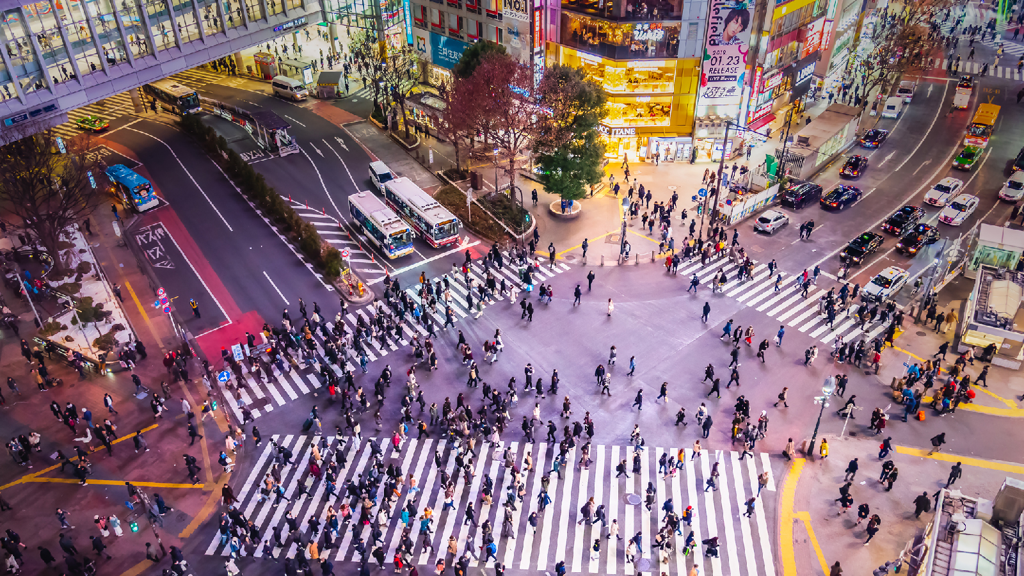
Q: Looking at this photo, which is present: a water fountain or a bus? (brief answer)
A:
bus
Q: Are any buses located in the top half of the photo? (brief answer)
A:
Yes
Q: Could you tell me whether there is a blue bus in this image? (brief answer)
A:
Yes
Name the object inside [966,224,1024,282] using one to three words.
building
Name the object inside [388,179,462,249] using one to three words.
bus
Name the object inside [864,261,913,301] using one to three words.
car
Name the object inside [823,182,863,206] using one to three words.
car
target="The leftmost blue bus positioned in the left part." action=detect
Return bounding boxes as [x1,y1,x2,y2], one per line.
[105,160,160,212]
